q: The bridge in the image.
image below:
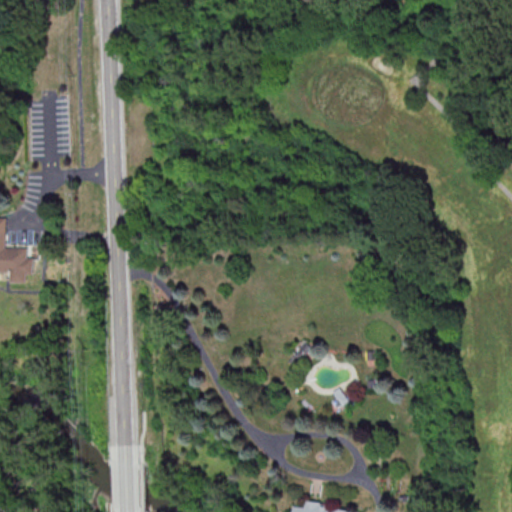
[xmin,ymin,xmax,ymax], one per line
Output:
[106,445,154,512]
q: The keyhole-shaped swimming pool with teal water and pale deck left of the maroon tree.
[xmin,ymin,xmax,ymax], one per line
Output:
[306,354,358,394]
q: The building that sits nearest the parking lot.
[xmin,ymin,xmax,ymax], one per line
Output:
[0,218,40,283]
